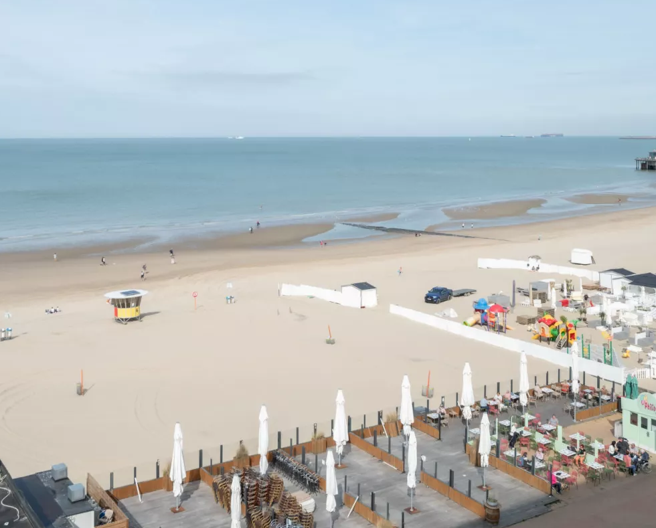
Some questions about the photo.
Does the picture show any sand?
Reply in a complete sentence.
Yes, there's sand in this view.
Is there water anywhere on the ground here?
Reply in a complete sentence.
Yes, water shows up in the scene.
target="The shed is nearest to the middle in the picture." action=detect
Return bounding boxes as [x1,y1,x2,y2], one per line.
[341,284,379,309]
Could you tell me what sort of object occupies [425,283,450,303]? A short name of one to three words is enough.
vehicle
